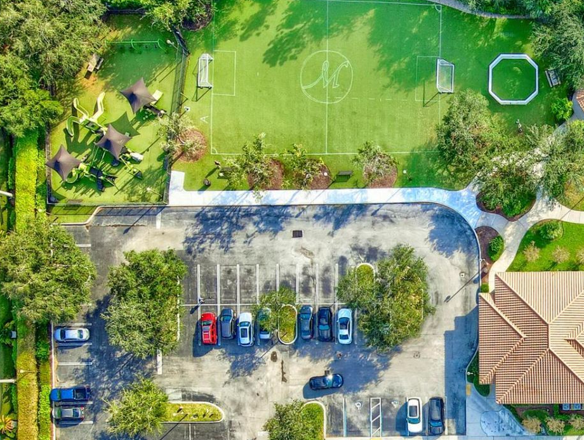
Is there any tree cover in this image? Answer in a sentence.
Yes, tree cover shows up in the scene.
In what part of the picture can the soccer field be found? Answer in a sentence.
The soccer field sits in the top section of the image.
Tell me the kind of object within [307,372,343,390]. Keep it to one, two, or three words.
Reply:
car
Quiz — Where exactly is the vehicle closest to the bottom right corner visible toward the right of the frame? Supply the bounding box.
[426,397,442,434]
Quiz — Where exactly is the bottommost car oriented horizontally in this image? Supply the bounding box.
[50,406,82,421]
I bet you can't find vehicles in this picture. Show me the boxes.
[52,325,87,341]
[253,306,271,340]
[334,308,351,342]
[196,313,214,344]
[49,385,88,403]
[50,406,82,421]
[215,307,233,340]
[404,397,421,434]
[307,372,343,390]
[314,306,331,340]
[426,397,442,434]
[233,312,252,346]
[296,304,313,338]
